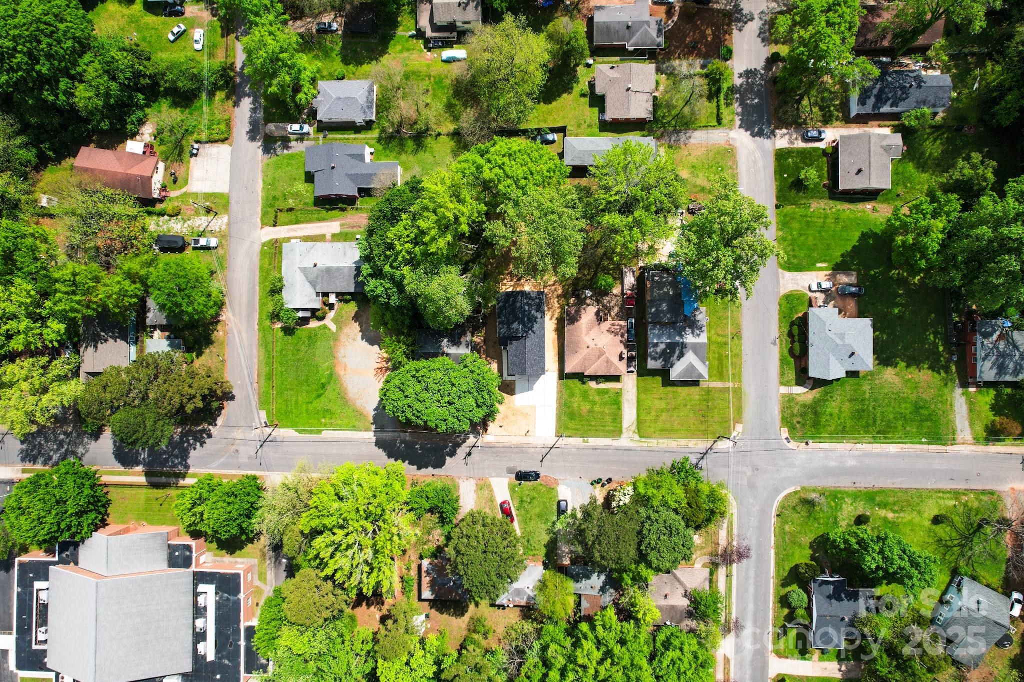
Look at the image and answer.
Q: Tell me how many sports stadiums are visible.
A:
0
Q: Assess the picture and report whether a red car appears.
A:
Yes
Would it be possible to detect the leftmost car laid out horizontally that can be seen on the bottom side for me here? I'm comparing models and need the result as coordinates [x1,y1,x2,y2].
[514,470,541,483]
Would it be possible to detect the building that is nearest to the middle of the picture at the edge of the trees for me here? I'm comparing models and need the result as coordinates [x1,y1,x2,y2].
[497,281,545,380]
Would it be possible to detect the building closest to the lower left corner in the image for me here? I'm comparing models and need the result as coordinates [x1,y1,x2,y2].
[0,524,273,682]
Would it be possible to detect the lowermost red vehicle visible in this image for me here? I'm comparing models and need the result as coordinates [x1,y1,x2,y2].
[499,499,515,524]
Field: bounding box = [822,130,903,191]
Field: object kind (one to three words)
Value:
house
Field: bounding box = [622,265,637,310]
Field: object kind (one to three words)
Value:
vehicle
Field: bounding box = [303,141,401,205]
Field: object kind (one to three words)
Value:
house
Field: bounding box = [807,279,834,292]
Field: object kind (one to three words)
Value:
vehicle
